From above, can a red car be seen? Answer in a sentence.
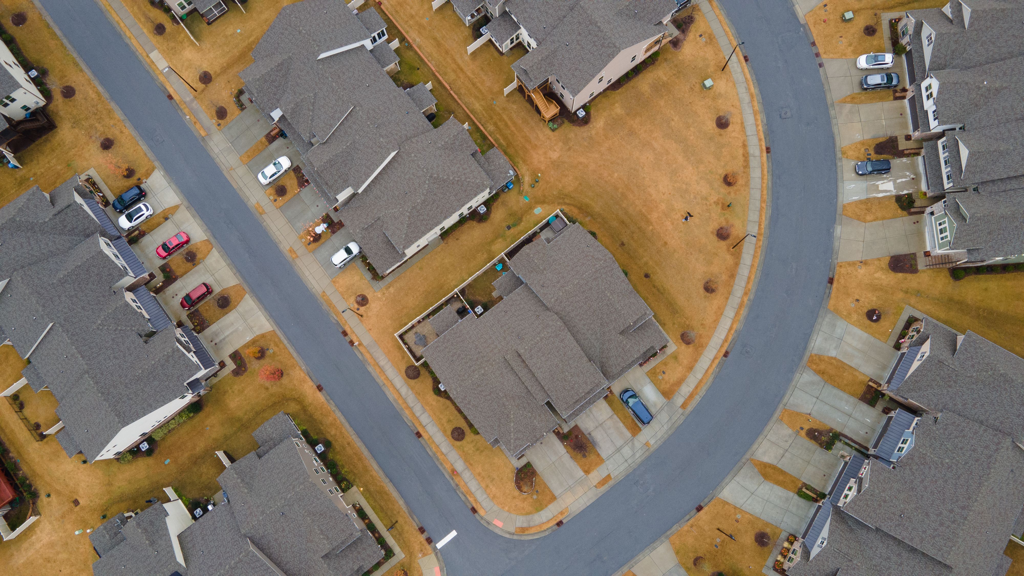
Yes, there is a red car in the image.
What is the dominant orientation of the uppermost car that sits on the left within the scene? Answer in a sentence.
What the image shows is the uppermost car that sits on the left lying diagonally.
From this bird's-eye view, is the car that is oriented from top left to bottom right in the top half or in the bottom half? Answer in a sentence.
It is in the bottom half that the car that is oriented from top left to bottom right appears.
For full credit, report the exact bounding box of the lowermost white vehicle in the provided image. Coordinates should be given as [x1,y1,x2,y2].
[329,242,362,269]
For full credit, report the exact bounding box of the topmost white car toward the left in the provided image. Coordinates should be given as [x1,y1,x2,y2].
[258,157,293,185]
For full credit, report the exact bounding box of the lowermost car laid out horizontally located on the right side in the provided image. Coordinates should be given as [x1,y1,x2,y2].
[854,159,892,176]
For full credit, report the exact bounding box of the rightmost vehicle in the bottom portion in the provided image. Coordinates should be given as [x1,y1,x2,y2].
[619,387,656,429]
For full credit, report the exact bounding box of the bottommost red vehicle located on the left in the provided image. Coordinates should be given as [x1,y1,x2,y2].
[179,281,215,310]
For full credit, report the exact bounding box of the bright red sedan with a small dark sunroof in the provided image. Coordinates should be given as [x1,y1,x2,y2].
[155,231,193,261]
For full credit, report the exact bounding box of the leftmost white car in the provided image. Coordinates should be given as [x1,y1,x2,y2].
[117,202,156,231]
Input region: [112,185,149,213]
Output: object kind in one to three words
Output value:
car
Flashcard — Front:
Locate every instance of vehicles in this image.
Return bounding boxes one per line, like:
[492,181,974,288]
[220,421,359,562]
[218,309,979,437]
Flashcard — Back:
[179,281,215,310]
[117,202,156,231]
[859,72,900,92]
[854,52,895,72]
[258,157,293,185]
[619,387,656,429]
[155,231,193,261]
[329,242,362,269]
[673,0,697,17]
[854,159,892,176]
[112,185,149,213]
